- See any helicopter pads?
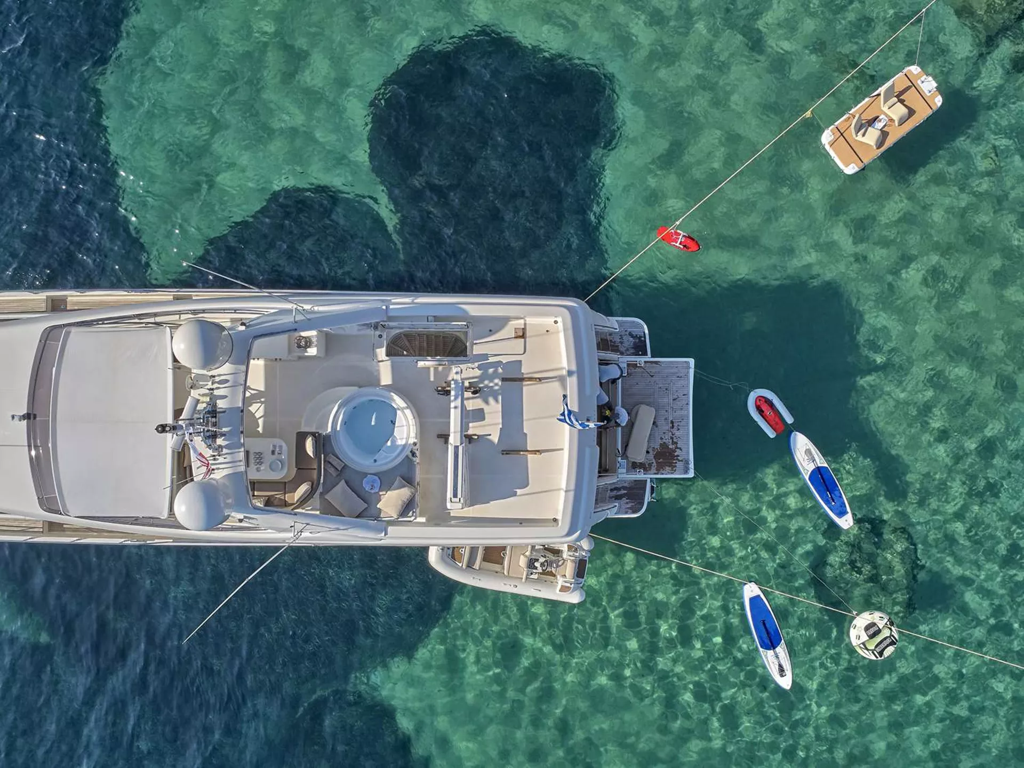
No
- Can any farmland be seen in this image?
No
